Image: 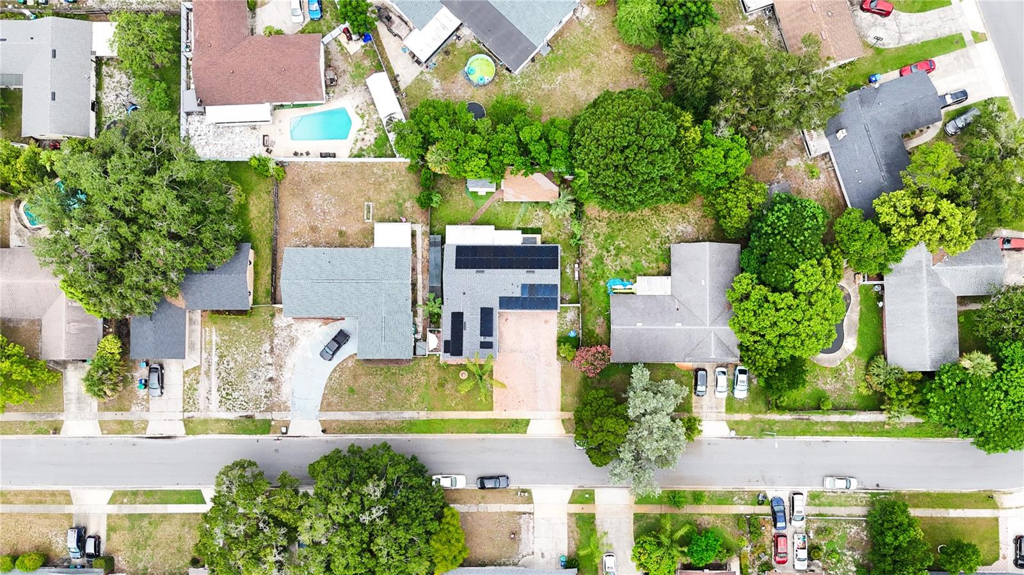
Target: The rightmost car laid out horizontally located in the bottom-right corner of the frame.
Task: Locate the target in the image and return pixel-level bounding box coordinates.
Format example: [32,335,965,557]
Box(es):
[825,477,859,493]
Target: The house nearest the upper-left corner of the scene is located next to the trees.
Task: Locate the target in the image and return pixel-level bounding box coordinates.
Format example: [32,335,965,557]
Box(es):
[0,15,128,138]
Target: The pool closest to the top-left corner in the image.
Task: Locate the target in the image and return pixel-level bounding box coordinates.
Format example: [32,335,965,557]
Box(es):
[10,167,101,247]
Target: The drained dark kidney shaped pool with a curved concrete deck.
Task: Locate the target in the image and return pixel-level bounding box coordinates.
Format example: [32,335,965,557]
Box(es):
[797,271,860,366]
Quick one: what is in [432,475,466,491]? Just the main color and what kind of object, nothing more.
white car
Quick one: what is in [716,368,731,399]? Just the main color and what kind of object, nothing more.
white car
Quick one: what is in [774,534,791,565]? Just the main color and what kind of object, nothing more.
red car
